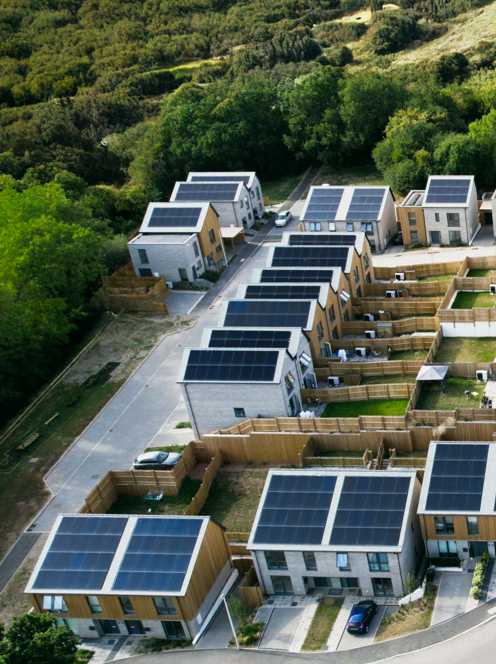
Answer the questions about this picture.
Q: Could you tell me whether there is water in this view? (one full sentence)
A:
No, there is no water in the image.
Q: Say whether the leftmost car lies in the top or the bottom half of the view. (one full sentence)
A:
Seen from above, the leftmost car lies in the bottom half of the view.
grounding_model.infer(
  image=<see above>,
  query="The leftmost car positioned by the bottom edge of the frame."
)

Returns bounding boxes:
[342,593,381,637]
